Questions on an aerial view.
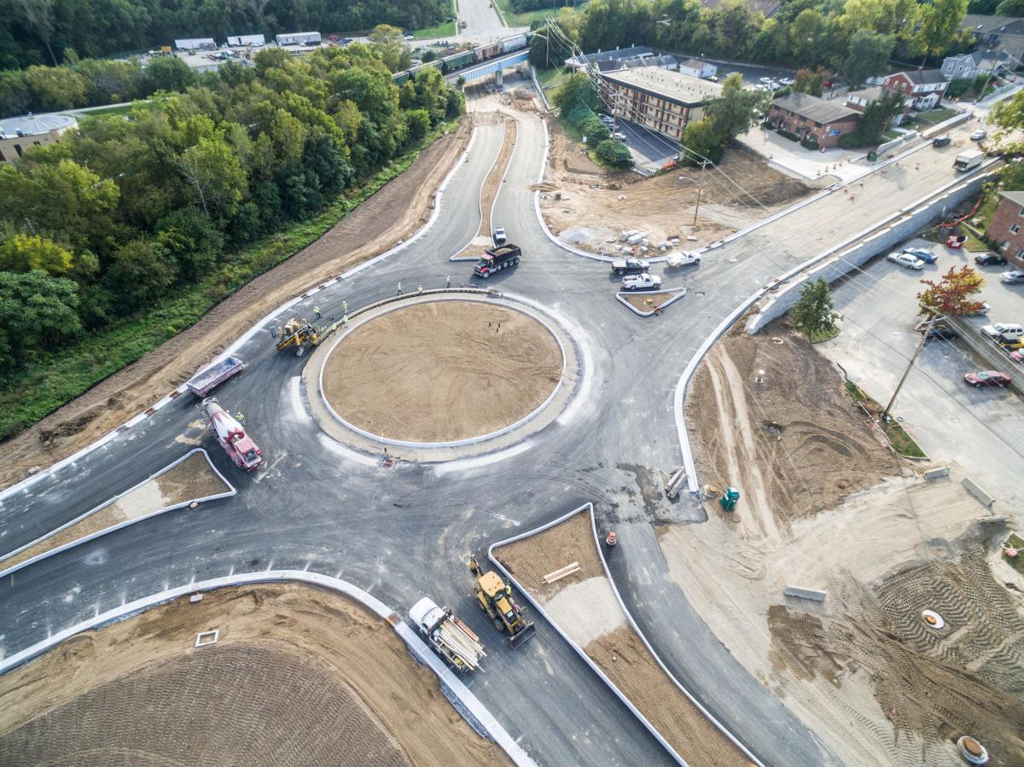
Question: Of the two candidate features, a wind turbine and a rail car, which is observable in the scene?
rail car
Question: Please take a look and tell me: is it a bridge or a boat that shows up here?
bridge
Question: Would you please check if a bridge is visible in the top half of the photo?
Yes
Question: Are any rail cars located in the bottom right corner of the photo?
No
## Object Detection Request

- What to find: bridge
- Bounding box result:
[456,51,539,90]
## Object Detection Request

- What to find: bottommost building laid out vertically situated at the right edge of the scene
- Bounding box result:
[979,192,1024,291]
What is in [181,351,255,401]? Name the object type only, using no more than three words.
trailer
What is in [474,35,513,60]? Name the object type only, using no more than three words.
rail car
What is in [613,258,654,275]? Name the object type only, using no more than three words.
vehicle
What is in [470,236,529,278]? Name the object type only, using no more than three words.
truck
